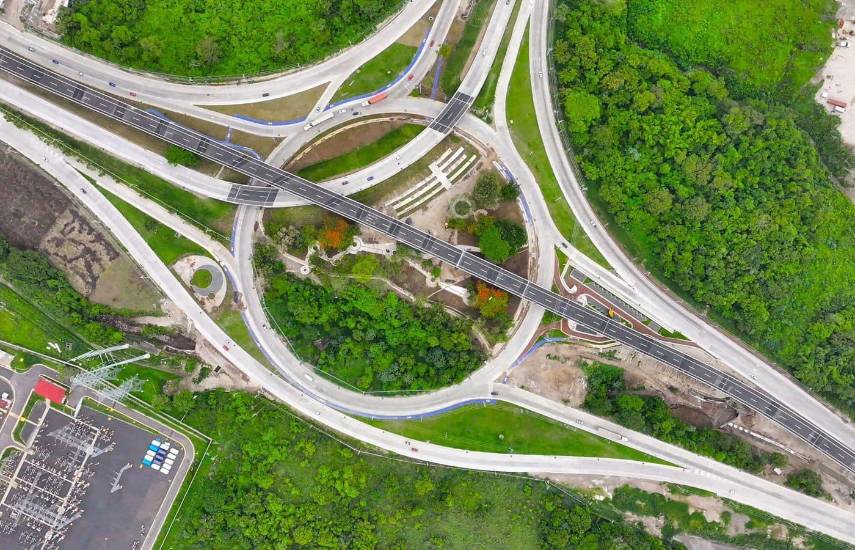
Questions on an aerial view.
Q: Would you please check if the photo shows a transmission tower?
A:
Yes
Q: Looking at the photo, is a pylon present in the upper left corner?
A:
No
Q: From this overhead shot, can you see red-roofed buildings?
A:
Yes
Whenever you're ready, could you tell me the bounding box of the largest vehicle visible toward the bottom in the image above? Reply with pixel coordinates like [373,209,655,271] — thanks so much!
[600,427,626,440]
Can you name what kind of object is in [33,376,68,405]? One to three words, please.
building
